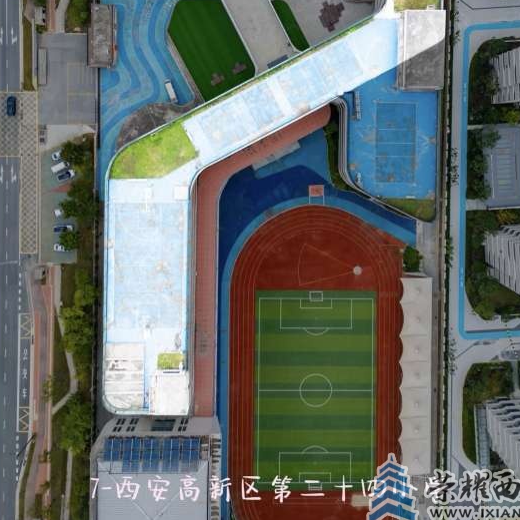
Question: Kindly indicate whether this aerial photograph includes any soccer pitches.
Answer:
Yes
